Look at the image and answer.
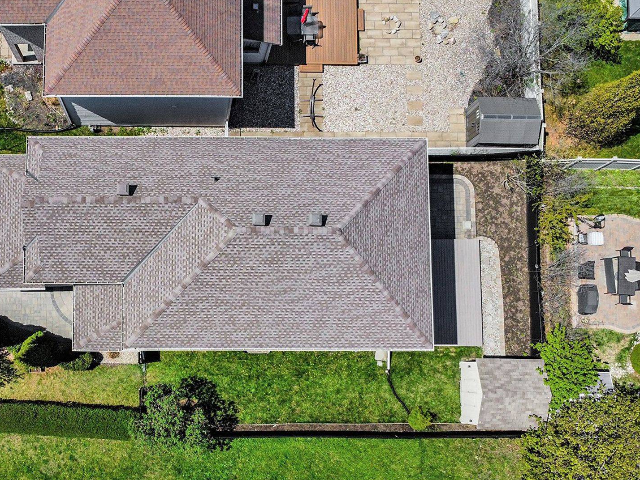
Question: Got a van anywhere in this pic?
No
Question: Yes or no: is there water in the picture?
No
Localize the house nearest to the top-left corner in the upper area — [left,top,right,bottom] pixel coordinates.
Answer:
[0,0,284,126]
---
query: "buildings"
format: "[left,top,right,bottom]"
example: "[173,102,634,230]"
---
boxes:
[0,135,436,370]
[465,97,544,150]
[460,358,554,430]
[0,0,284,126]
